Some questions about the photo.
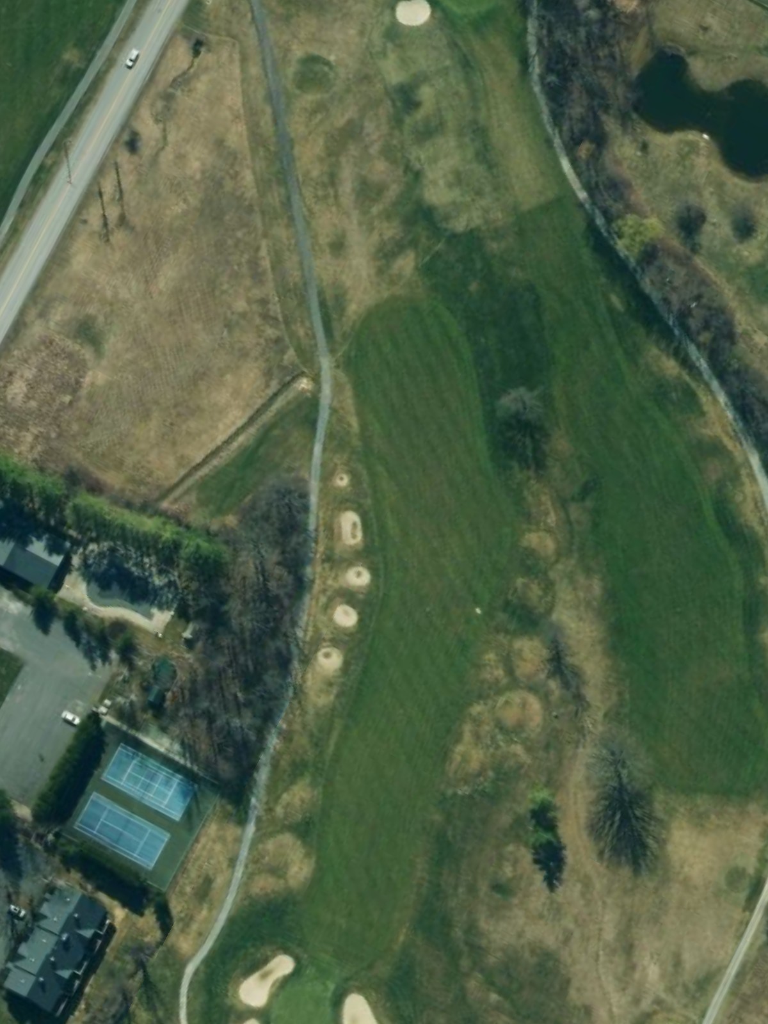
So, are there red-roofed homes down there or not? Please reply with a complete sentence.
No, the photo shows no red-roofed home.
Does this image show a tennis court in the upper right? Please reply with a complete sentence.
No, I can find no tennis court in the upper right.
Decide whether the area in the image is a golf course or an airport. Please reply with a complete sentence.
It's a golf course.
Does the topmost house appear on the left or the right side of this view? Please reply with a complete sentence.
The topmost house appears in the left half of the scene.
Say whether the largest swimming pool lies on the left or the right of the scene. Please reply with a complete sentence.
The largest swimming pool sits on the left side.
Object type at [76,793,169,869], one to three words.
tennis court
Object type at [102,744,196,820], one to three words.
tennis court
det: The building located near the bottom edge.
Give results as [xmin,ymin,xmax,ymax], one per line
[1,882,108,1017]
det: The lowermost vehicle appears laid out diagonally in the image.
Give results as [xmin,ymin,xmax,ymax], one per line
[9,904,26,918]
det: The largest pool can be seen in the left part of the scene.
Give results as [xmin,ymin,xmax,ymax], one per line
[63,566,174,638]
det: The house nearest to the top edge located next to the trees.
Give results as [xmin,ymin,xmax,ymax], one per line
[0,513,69,586]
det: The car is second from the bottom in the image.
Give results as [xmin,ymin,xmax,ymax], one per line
[61,711,79,725]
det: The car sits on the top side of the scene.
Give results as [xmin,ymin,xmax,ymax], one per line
[126,49,139,68]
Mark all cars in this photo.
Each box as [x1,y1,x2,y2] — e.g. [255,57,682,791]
[126,49,139,68]
[9,904,26,918]
[61,711,79,725]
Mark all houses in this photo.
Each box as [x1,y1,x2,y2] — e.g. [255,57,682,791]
[1,882,108,1017]
[0,513,69,586]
